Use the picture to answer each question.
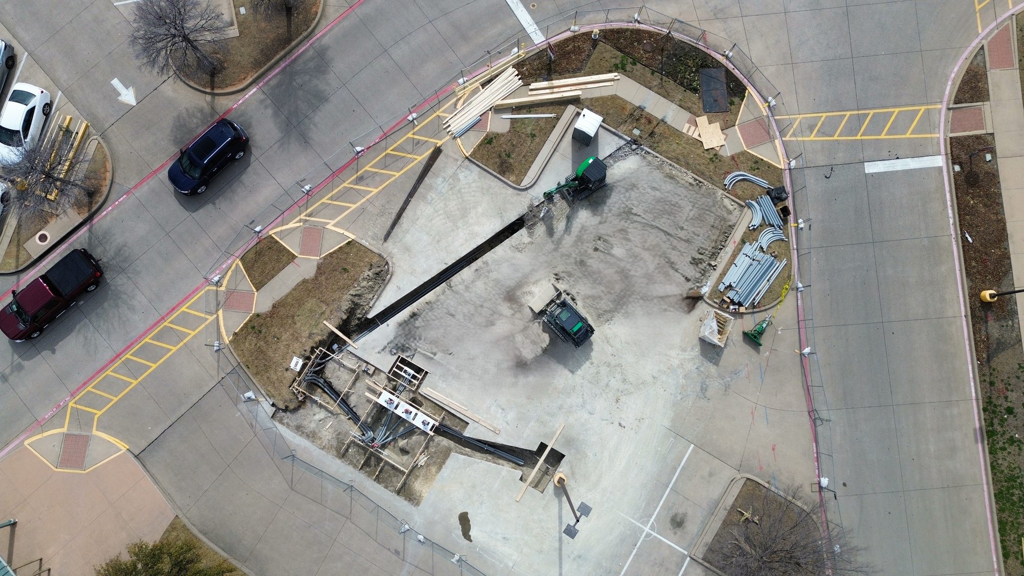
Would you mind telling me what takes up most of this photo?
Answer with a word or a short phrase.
paved ground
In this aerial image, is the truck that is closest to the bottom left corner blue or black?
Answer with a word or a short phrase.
black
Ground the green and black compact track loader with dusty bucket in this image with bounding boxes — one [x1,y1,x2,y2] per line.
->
[527,283,596,347]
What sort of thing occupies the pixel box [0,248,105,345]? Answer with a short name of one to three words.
truck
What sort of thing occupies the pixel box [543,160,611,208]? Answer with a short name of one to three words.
work vehicle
